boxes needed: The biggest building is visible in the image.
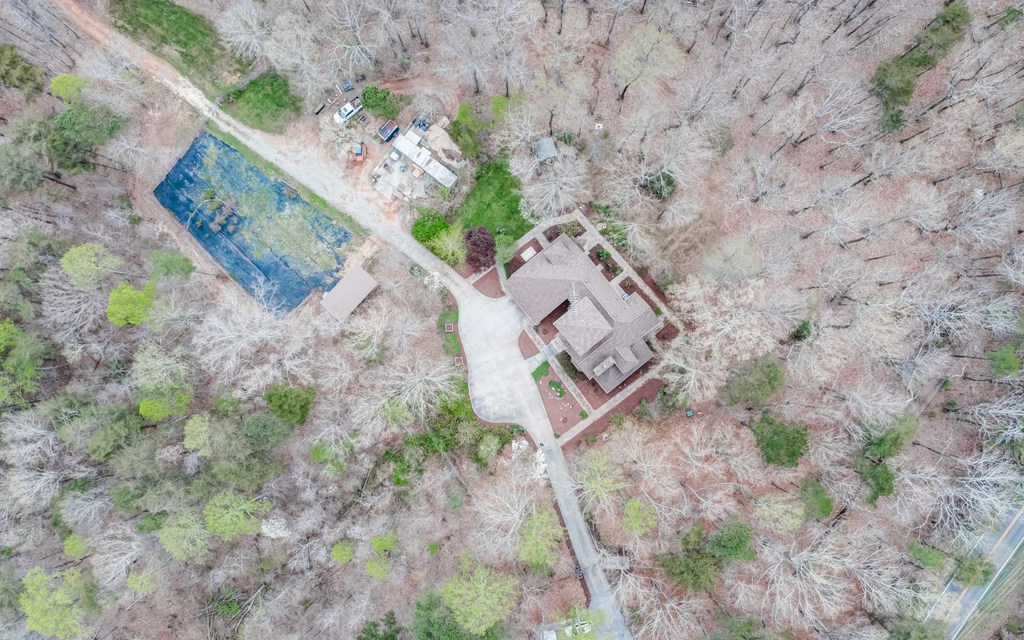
[502,232,661,395]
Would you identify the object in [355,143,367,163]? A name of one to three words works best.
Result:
vehicle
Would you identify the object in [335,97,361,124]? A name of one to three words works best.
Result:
truck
